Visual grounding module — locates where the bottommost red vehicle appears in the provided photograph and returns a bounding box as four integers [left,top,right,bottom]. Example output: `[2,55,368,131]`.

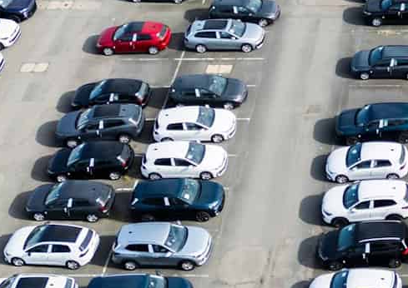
[96,20,173,55]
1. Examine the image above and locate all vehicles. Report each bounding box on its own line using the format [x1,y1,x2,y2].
[71,77,154,112]
[1,222,98,268]
[308,266,403,288]
[46,139,133,179]
[141,140,229,181]
[97,271,196,288]
[334,104,408,145]
[54,102,139,141]
[0,0,42,22]
[24,178,116,221]
[0,14,26,49]
[115,222,215,271]
[209,0,283,27]
[325,141,408,182]
[320,180,408,225]
[168,73,250,110]
[186,18,267,54]
[96,20,173,55]
[155,105,238,143]
[131,178,229,224]
[317,221,408,270]
[364,0,408,27]
[349,46,408,81]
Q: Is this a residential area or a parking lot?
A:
parking lot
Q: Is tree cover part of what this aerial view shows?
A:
No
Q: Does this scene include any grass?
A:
No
